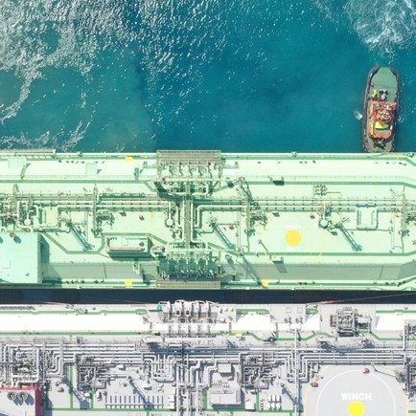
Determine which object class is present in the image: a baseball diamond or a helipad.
helipad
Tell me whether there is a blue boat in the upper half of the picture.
No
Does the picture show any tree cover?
No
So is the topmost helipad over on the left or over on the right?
right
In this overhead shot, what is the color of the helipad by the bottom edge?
white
